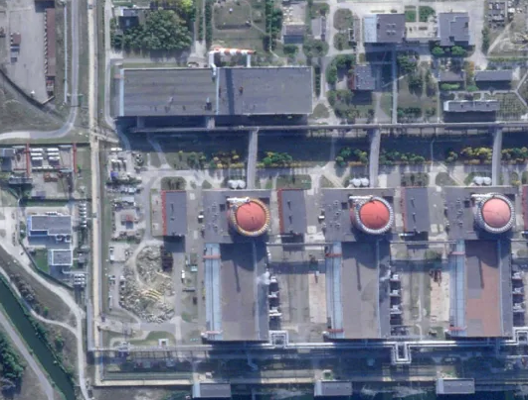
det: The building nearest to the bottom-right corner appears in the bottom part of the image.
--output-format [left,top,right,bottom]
[435,378,474,395]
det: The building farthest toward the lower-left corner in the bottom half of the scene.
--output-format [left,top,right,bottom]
[50,250,72,265]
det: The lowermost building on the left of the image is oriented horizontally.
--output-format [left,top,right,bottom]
[191,383,231,399]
